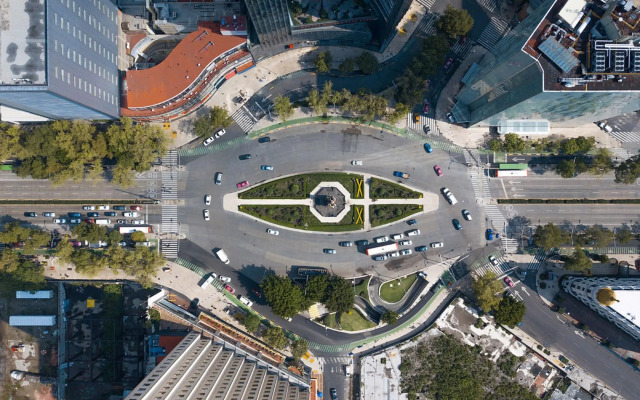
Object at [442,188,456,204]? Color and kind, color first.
white vehicle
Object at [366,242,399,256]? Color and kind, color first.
white vehicle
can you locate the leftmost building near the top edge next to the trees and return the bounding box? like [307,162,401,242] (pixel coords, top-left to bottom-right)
[0,0,120,121]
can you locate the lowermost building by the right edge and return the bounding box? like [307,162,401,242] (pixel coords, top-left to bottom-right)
[561,276,640,344]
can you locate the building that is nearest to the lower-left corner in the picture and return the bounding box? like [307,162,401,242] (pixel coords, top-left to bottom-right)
[9,314,58,326]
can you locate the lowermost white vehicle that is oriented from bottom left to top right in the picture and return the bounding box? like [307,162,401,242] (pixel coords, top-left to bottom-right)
[198,272,218,291]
